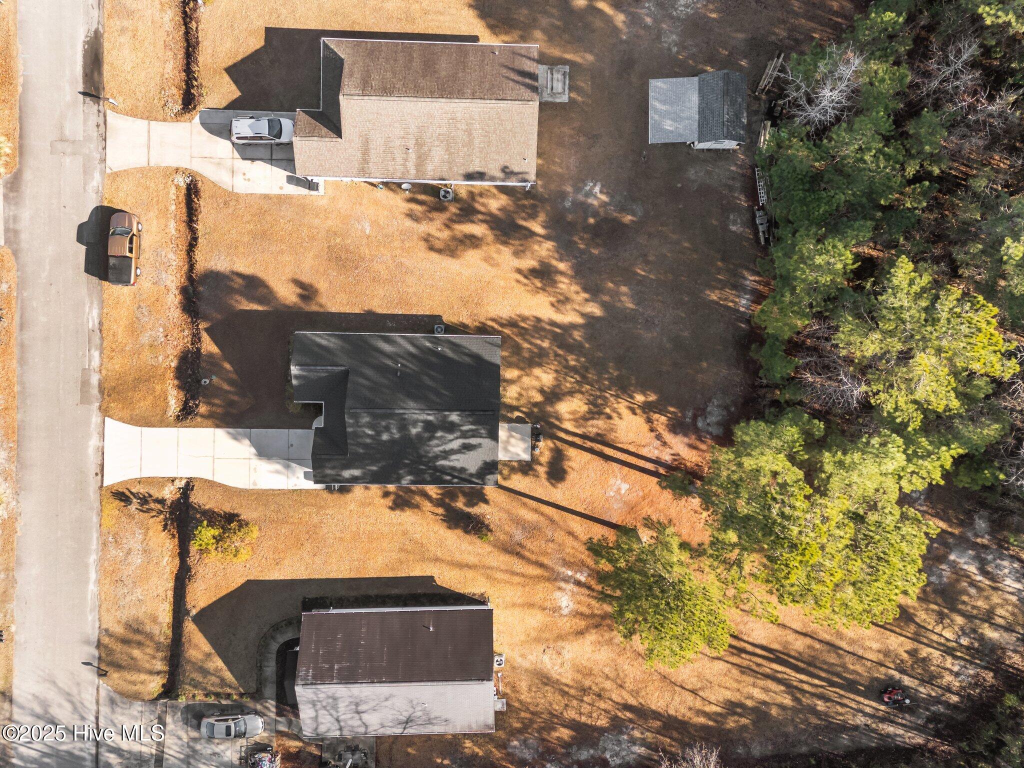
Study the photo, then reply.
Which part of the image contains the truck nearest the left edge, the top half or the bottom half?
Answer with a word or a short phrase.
top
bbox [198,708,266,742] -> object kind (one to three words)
car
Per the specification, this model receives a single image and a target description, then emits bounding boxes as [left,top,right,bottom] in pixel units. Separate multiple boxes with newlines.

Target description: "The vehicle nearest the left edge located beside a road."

[109,214,145,289]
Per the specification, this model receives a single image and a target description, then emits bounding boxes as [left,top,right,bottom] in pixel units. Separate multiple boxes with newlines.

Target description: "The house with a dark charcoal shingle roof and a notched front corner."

[291,331,501,488]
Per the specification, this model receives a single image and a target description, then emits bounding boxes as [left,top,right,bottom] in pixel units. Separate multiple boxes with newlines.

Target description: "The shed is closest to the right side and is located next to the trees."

[647,68,746,157]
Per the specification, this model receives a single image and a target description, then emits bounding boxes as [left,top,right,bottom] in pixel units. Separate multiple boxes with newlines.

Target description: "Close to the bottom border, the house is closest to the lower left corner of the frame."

[285,595,495,739]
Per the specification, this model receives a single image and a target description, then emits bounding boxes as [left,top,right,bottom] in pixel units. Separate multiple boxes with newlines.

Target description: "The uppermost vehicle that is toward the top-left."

[229,115,294,148]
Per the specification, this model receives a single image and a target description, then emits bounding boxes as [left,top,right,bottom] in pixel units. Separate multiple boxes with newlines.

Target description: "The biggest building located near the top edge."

[291,38,540,192]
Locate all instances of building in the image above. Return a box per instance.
[291,38,540,192]
[647,68,746,157]
[291,331,501,488]
[285,595,495,739]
